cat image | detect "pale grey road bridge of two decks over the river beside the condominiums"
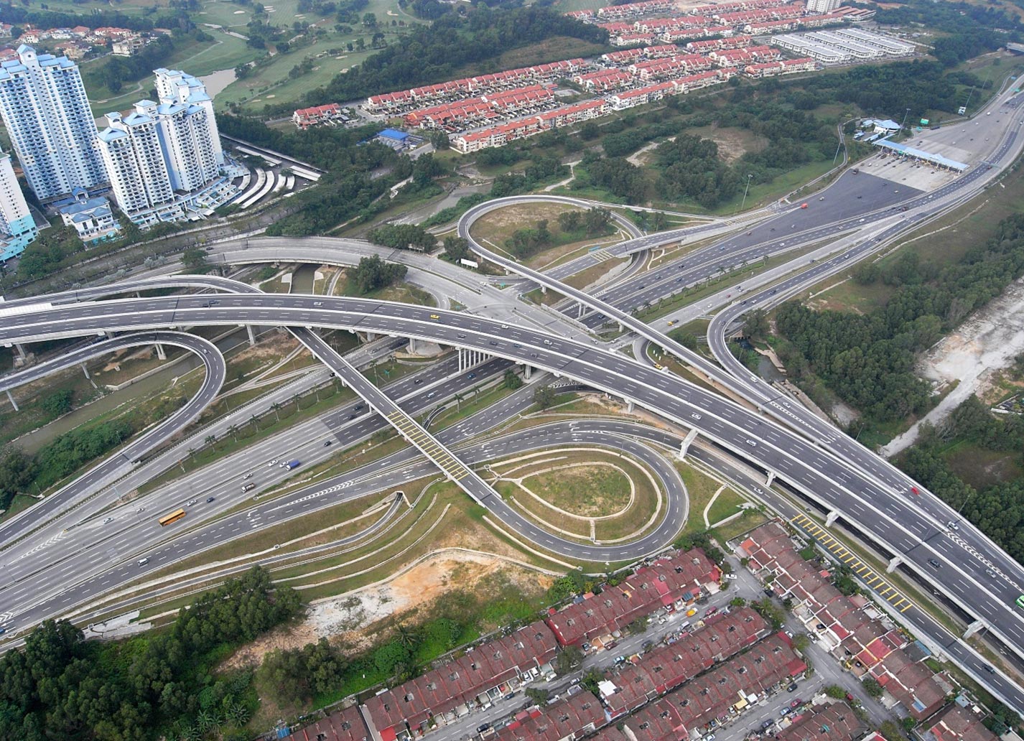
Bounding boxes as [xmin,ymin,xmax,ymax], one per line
[181,236,392,268]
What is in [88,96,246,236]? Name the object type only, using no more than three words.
building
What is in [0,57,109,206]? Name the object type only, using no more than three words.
building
